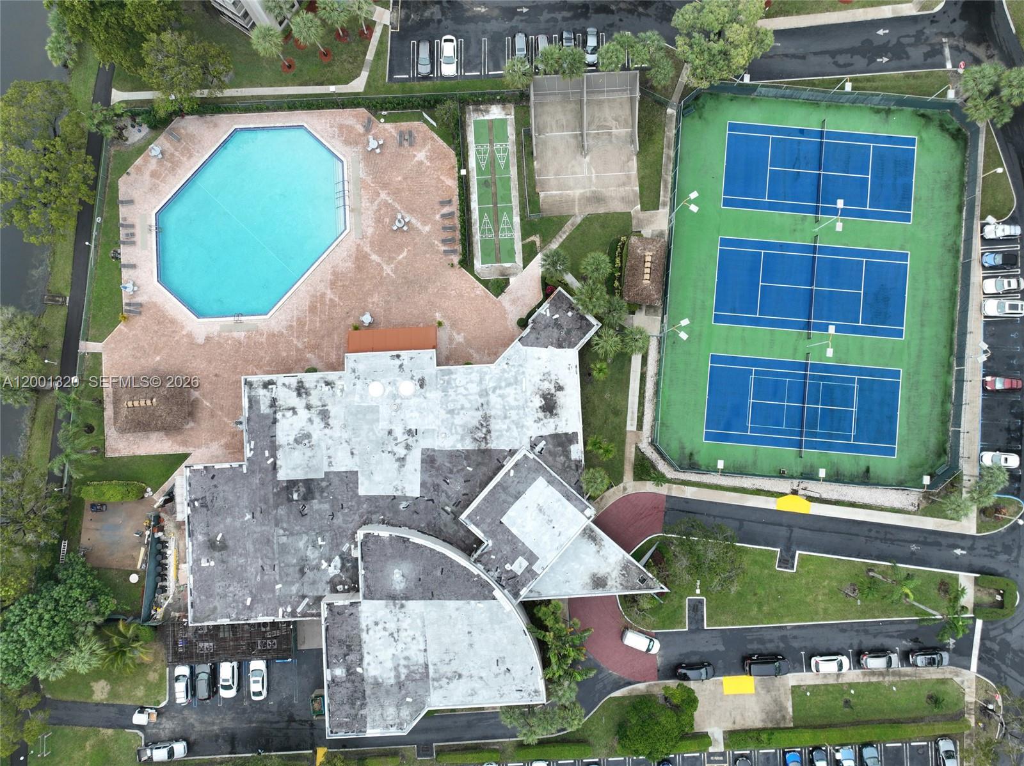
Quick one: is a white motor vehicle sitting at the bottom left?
Yes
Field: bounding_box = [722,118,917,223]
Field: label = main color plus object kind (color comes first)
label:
blue tennis court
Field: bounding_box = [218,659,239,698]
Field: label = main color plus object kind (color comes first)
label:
white car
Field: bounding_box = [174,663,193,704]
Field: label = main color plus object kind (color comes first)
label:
white vehicle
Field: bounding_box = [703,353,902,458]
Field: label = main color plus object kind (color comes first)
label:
blue tennis court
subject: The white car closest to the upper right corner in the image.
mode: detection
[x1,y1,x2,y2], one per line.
[981,221,1022,240]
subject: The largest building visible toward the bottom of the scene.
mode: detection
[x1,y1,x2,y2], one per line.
[185,287,670,739]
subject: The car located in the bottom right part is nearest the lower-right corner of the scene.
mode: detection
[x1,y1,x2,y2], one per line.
[934,735,956,766]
